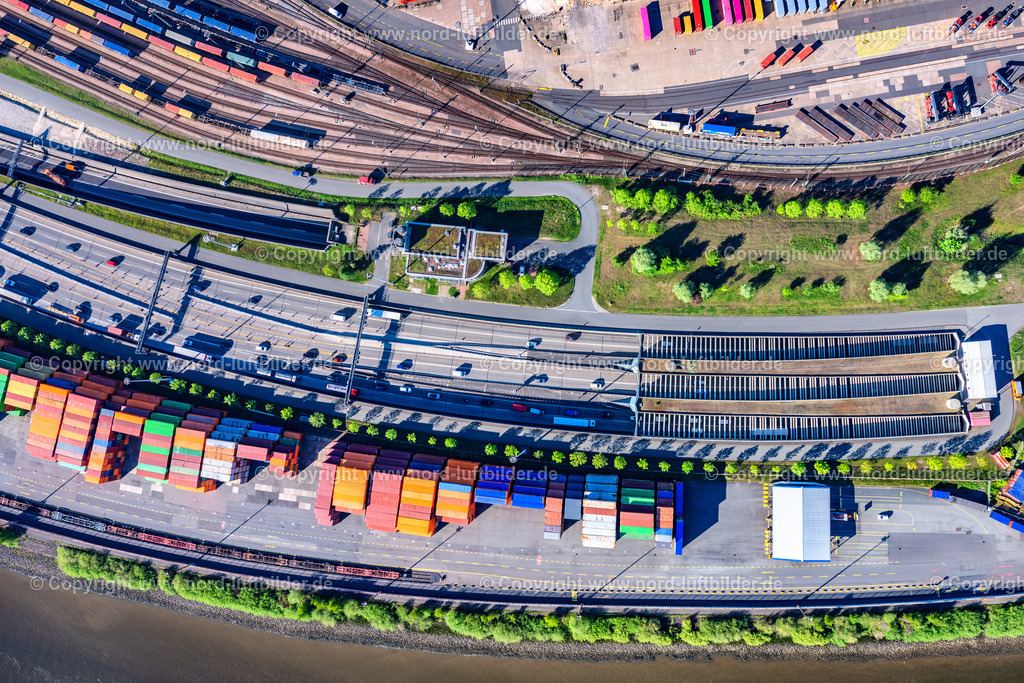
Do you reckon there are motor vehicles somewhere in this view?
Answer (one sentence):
Yes, a motor vehicle appears in the view.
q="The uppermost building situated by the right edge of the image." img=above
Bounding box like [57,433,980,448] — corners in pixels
[957,340,997,399]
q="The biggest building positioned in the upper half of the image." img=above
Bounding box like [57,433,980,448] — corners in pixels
[404,221,510,281]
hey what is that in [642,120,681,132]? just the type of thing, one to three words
vehicle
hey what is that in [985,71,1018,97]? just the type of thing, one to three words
work vehicle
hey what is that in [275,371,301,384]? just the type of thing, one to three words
vehicle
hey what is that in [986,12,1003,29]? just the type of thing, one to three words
work vehicle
